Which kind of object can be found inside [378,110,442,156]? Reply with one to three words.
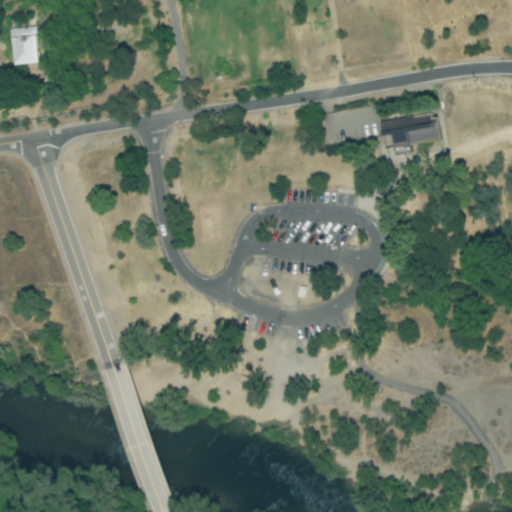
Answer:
building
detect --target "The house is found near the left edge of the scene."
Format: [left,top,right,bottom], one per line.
[10,26,38,65]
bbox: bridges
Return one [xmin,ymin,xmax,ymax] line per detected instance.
[100,362,172,502]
